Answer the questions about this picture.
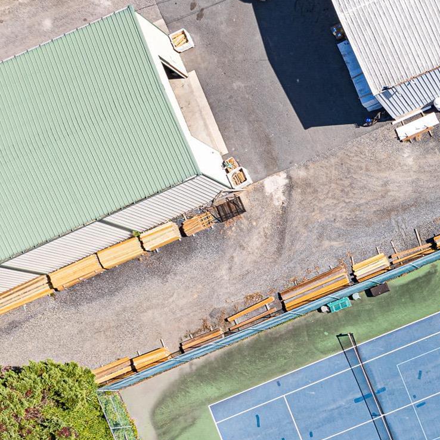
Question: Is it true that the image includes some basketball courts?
No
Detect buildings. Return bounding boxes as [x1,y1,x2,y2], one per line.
[329,0,440,119]
[0,1,233,290]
